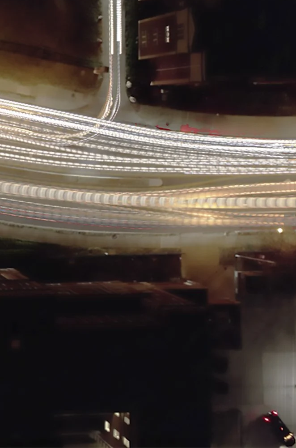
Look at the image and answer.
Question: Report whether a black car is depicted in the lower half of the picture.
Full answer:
Yes, you'll find a black car in the lower half of the picture.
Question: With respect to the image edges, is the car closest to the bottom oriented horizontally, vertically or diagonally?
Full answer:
I'd say the car closest to the bottom is aligned diagonally in the picture.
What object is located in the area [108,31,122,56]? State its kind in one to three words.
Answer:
car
